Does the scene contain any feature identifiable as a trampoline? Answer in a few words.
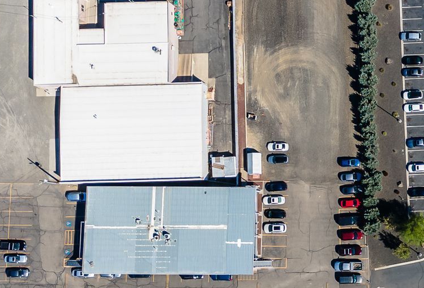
No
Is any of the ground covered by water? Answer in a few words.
No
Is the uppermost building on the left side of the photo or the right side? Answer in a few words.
left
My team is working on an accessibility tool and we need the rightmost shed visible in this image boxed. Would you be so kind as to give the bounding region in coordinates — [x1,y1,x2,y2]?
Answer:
[248,152,264,174]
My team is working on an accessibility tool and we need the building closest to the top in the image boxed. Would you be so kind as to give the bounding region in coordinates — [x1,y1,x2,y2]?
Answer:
[34,0,178,89]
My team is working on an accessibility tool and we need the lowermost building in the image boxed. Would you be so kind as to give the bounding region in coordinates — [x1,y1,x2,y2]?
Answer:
[82,187,259,274]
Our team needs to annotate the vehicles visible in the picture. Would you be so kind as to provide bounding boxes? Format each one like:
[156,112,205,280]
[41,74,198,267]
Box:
[401,54,423,65]
[339,171,362,181]
[340,156,361,167]
[340,197,360,208]
[181,274,205,280]
[5,267,30,279]
[336,245,364,256]
[264,222,286,233]
[264,209,287,219]
[401,66,423,77]
[266,140,289,152]
[339,273,363,286]
[4,254,27,266]
[65,191,85,201]
[400,31,422,41]
[265,180,287,192]
[336,214,362,226]
[407,162,424,173]
[340,184,363,194]
[402,90,424,100]
[0,239,27,251]
[406,138,424,147]
[403,102,424,113]
[72,268,95,279]
[334,261,362,272]
[341,229,363,241]
[128,274,152,280]
[263,195,286,206]
[99,274,122,280]
[266,153,289,165]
